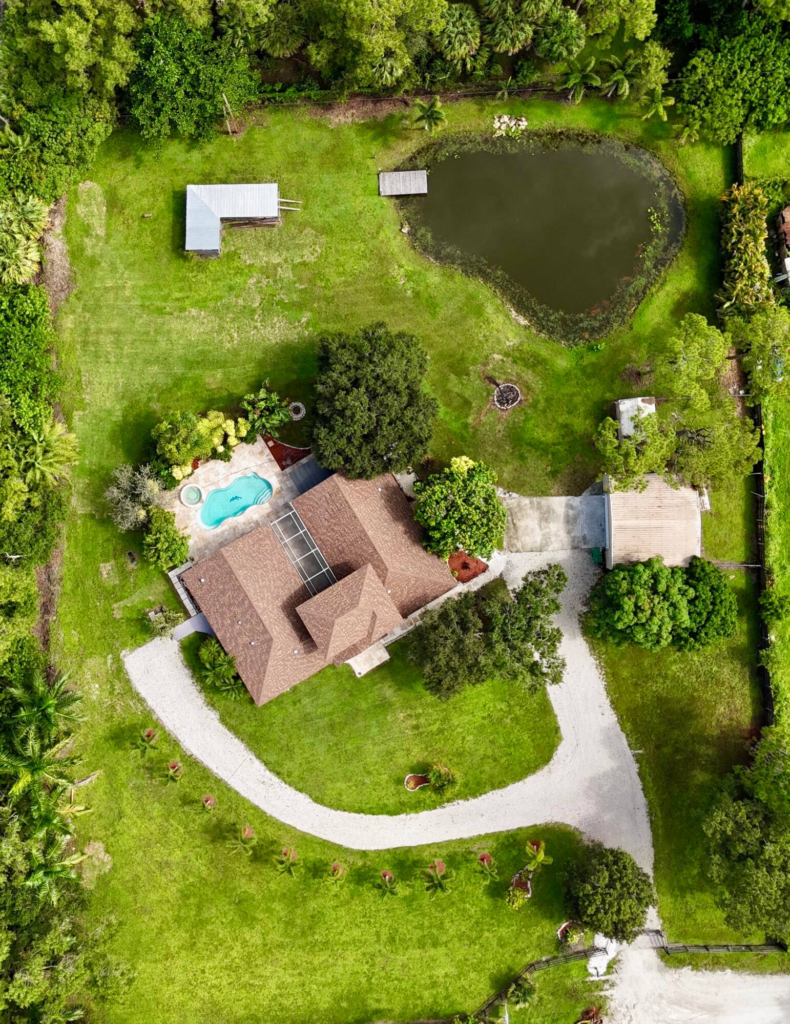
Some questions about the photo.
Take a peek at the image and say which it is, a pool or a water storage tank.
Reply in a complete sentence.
There is a pool in the scene.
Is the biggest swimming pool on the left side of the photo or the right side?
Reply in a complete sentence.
The biggest swimming pool is on the left side of the image.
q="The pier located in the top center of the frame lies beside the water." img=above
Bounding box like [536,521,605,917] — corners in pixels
[377,169,427,199]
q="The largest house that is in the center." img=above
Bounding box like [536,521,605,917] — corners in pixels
[181,454,457,707]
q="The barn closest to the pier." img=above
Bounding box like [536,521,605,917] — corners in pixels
[185,183,282,258]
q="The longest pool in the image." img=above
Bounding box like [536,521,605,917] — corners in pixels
[198,471,275,531]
